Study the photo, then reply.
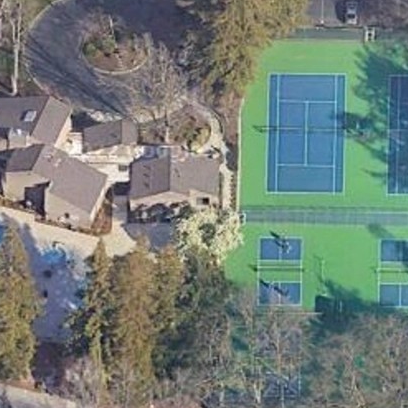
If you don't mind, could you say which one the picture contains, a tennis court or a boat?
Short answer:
tennis court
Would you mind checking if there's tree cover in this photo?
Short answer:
Yes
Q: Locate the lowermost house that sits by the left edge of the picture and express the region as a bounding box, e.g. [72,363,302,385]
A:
[5,144,107,224]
